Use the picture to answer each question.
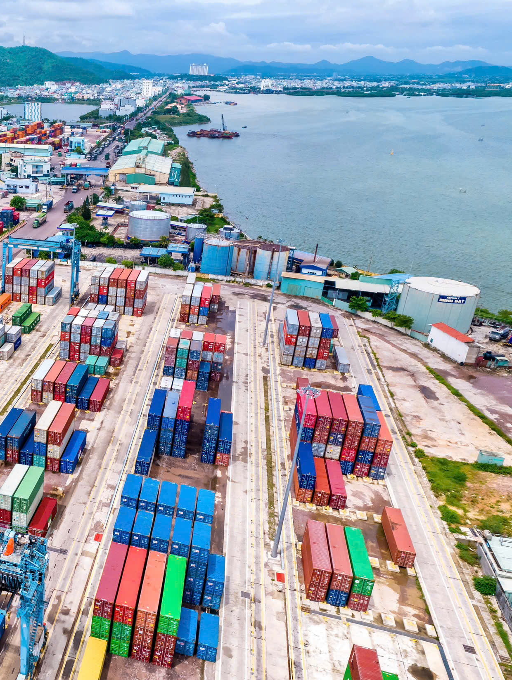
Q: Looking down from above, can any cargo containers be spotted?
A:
Yes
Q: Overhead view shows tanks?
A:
Yes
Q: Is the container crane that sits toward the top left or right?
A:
left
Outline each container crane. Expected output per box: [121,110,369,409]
[0,232,86,304]
[0,506,62,680]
